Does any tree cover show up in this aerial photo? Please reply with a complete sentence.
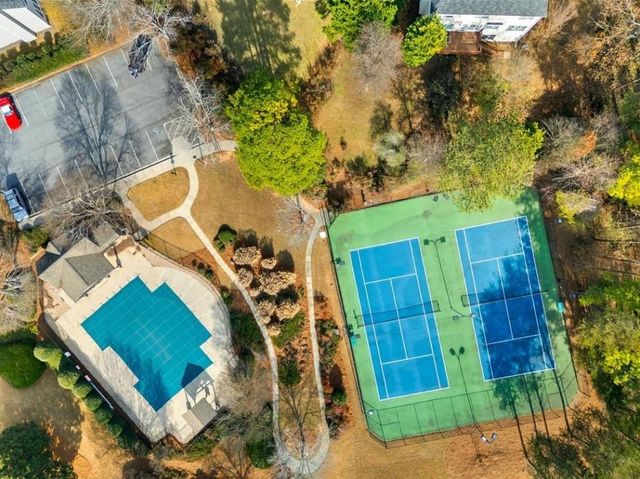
Yes, some tree cover is visible.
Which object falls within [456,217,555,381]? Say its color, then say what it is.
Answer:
blue tennis court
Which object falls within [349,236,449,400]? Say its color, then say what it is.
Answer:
blue tennis court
